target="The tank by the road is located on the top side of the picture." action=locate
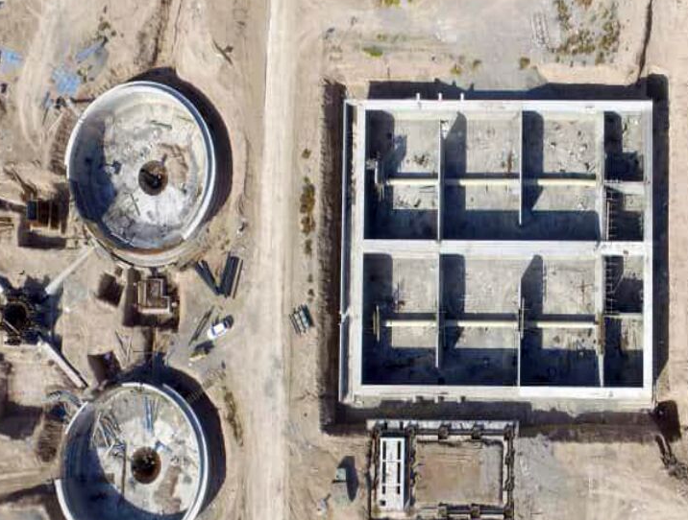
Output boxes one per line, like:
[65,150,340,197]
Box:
[66,80,229,262]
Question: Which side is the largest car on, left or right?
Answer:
left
